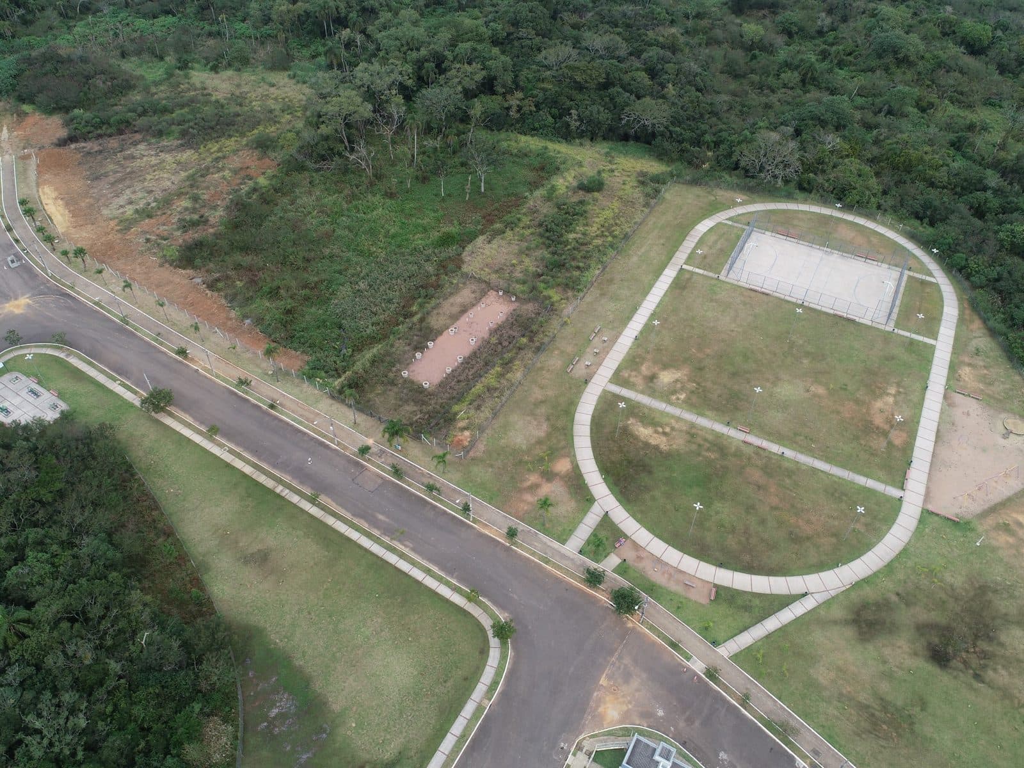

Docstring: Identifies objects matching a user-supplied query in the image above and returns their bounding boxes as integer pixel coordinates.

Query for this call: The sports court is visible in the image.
[722,232,908,326]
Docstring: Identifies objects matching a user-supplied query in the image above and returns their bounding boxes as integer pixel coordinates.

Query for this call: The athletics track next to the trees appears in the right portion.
[573,202,959,594]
